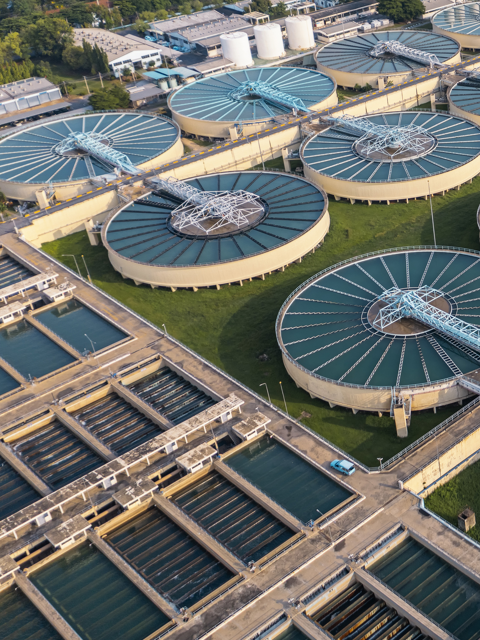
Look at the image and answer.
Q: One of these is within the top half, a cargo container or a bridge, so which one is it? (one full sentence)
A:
It is a bridge that can be seen within the top half.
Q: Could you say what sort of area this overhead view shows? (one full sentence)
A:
This image shows an industrial area.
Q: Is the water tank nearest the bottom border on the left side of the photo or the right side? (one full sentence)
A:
You can find the water tank nearest the bottom border on the right side of the picture.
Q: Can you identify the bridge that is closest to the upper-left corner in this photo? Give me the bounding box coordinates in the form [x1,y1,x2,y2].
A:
[76,132,140,173]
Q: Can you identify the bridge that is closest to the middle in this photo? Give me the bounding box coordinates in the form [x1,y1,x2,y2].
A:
[150,177,214,212]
